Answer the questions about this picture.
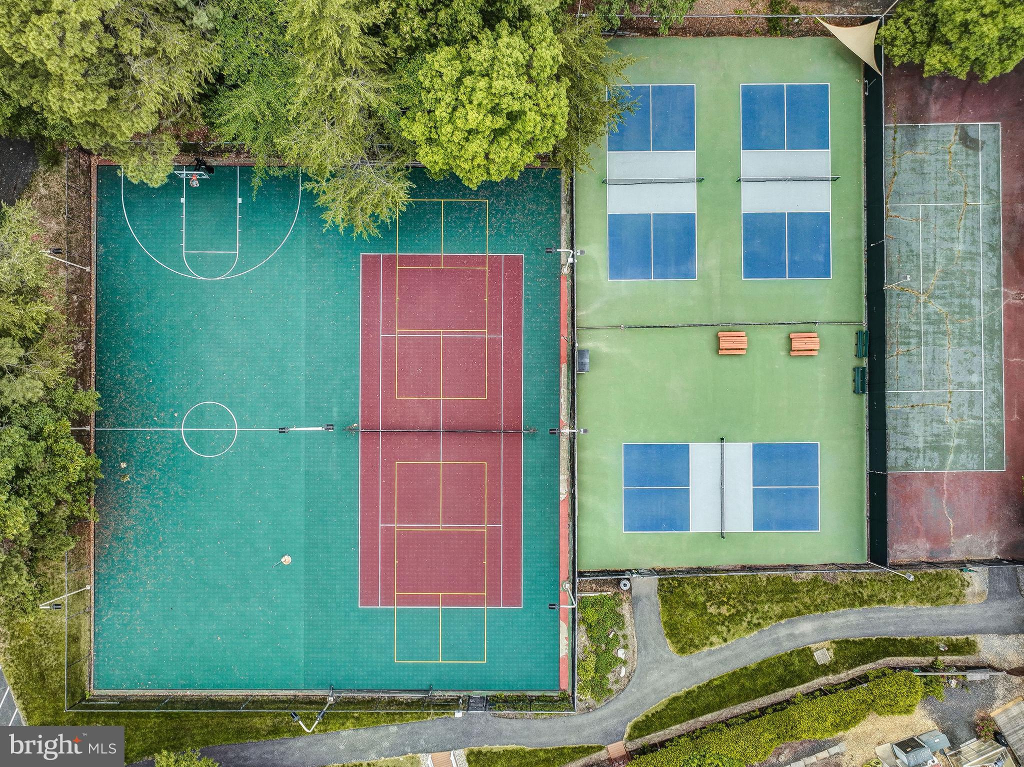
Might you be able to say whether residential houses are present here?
No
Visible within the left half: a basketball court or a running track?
basketball court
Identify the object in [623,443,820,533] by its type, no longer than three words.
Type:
sports court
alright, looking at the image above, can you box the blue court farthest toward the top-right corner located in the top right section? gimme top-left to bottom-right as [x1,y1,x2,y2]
[741,83,831,279]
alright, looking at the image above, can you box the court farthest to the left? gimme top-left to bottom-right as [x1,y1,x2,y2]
[94,166,304,690]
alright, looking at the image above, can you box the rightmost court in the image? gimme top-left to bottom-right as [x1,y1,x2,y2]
[868,0,1024,560]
